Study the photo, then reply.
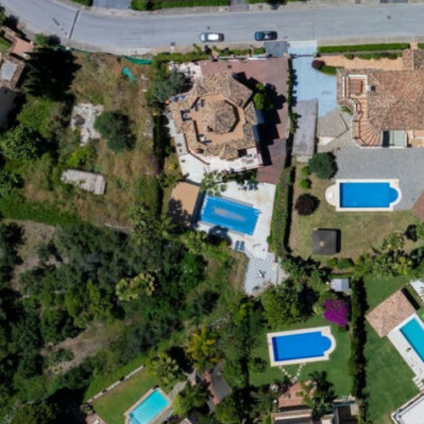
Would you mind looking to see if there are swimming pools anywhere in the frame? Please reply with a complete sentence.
Yes, there is a swimming pool in the image.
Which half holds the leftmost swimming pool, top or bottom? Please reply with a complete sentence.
It is in the bottom half that the leftmost swimming pool appears.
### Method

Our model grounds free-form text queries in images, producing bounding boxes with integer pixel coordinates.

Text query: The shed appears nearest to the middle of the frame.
[169,182,204,217]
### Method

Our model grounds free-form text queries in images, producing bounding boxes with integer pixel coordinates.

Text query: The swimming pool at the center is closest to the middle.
[199,194,261,238]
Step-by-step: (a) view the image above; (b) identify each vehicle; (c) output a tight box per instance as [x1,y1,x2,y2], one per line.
[200,33,224,44]
[255,30,277,41]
